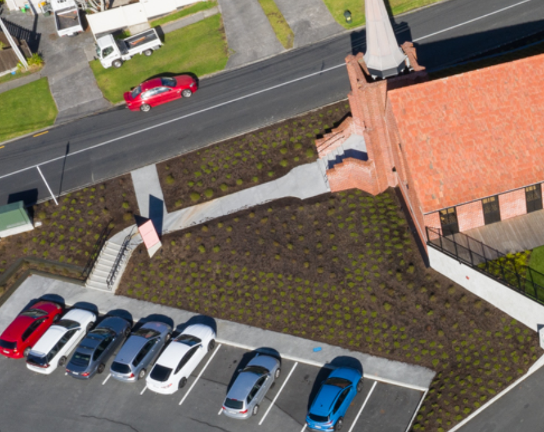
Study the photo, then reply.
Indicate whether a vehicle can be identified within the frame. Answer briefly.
Yes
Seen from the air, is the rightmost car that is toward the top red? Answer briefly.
Yes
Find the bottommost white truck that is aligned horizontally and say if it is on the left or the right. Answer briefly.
left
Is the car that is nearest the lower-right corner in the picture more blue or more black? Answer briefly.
blue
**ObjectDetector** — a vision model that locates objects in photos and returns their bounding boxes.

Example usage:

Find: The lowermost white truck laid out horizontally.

[85,28,162,68]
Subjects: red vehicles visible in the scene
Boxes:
[125,74,198,110]
[0,302,61,363]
